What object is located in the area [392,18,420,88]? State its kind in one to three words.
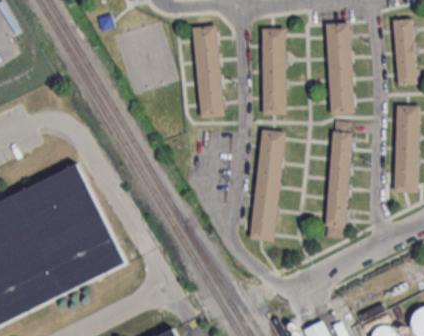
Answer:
building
